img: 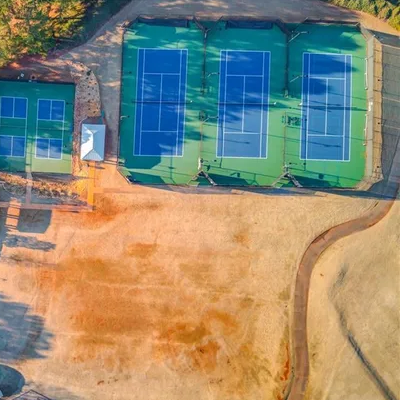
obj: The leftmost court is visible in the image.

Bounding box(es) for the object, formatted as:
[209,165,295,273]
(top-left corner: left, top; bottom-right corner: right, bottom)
[0,82,32,172]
